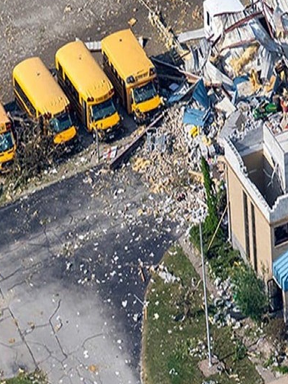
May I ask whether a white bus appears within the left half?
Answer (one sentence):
No, I can find no white bus within the left half.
